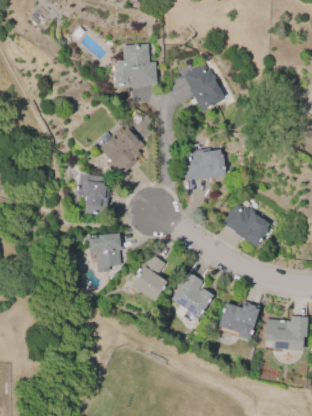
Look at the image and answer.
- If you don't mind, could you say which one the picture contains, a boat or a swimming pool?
swimming pool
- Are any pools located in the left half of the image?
Yes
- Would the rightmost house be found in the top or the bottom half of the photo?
bottom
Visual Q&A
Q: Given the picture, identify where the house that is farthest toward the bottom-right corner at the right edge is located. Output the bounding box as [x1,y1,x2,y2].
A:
[266,316,310,351]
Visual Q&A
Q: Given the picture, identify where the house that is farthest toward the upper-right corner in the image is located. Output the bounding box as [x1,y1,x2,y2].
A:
[184,64,228,112]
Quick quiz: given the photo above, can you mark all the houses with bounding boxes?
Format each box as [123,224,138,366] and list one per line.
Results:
[76,173,109,214]
[218,300,263,338]
[102,128,144,170]
[114,42,158,89]
[174,272,216,317]
[89,234,122,272]
[266,316,310,351]
[188,147,227,182]
[184,64,228,112]
[223,203,271,248]
[130,257,169,303]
